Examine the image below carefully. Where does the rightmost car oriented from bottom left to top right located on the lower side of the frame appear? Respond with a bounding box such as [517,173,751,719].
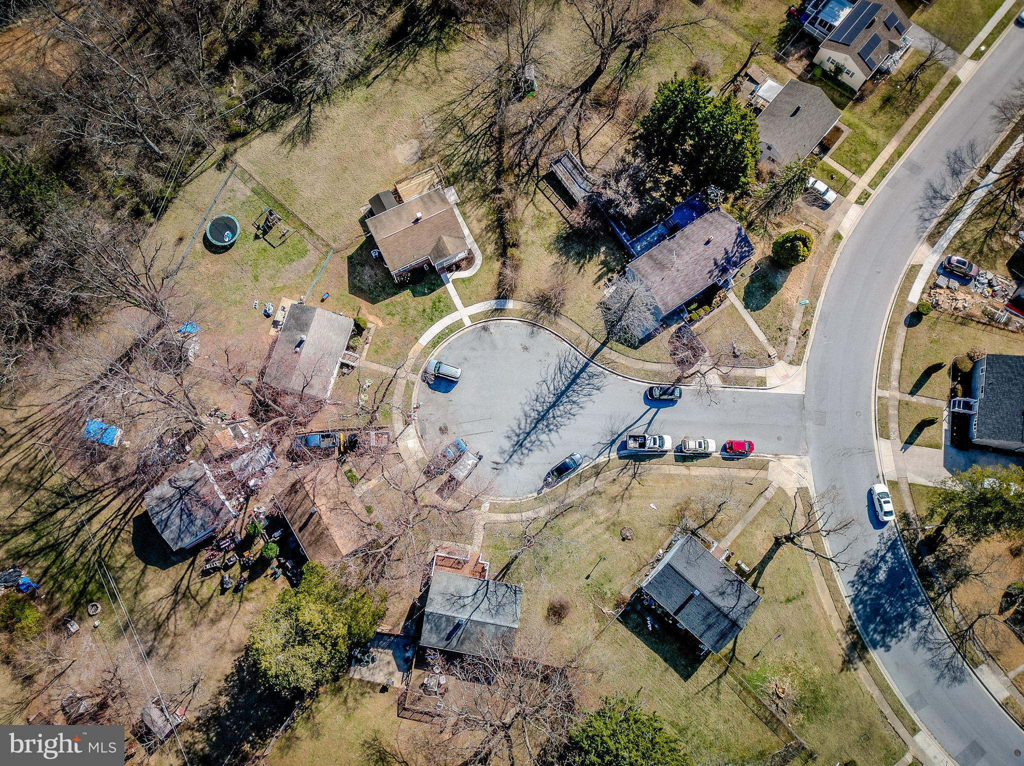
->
[544,452,583,487]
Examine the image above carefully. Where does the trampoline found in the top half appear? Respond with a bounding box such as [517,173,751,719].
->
[206,213,240,246]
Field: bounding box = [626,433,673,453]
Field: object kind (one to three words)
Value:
vehicle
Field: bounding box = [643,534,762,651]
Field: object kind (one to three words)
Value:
house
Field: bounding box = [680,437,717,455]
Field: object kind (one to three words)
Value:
car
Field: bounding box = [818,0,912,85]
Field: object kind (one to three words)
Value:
house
